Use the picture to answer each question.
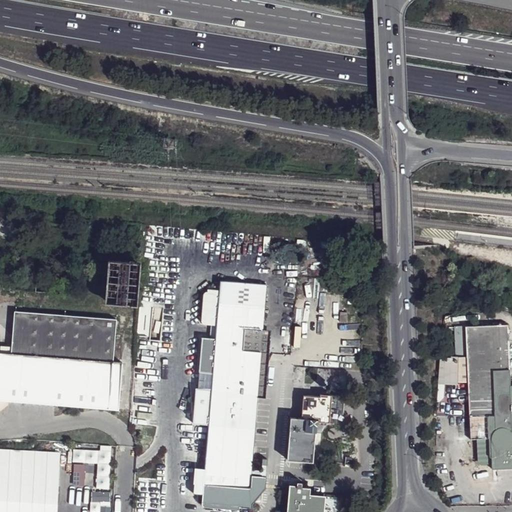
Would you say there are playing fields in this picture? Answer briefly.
No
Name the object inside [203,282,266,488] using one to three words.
building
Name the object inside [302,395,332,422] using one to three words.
house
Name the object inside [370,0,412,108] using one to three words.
bridge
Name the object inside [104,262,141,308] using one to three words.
building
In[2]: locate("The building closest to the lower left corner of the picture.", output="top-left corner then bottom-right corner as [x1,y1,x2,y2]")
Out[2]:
[0,450,60,512]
